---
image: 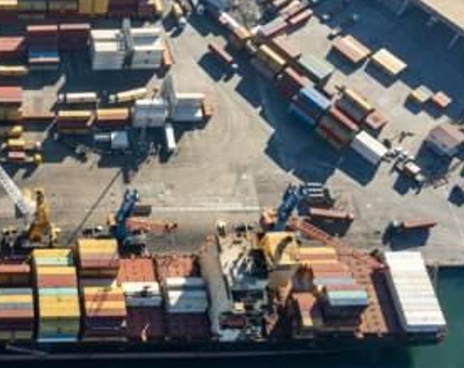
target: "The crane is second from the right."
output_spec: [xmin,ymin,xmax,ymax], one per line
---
[94,187,180,259]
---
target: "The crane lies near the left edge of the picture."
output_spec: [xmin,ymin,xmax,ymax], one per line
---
[0,155,67,265]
